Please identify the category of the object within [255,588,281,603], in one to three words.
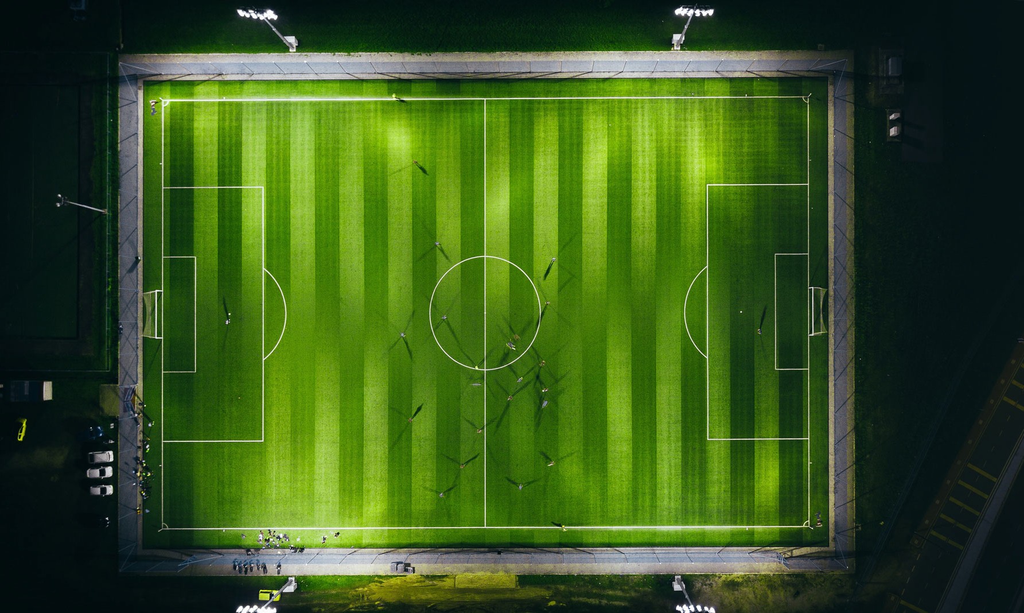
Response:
vehicle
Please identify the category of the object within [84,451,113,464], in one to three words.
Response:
vehicle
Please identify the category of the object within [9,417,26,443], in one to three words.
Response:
car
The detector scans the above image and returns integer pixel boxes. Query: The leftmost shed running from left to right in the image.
[3,380,52,402]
